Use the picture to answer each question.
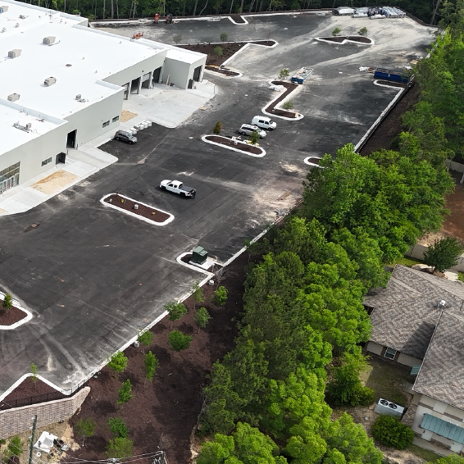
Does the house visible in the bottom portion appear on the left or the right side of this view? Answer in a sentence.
The house visible in the bottom portion sits on the right side.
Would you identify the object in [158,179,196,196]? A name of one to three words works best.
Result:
vehicle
